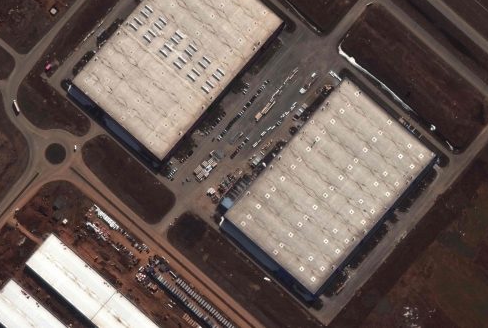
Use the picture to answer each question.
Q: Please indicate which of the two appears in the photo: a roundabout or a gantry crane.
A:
roundabout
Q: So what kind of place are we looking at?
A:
industrial area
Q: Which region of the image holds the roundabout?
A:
left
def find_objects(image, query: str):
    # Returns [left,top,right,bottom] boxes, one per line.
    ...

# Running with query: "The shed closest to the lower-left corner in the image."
[0,279,67,328]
